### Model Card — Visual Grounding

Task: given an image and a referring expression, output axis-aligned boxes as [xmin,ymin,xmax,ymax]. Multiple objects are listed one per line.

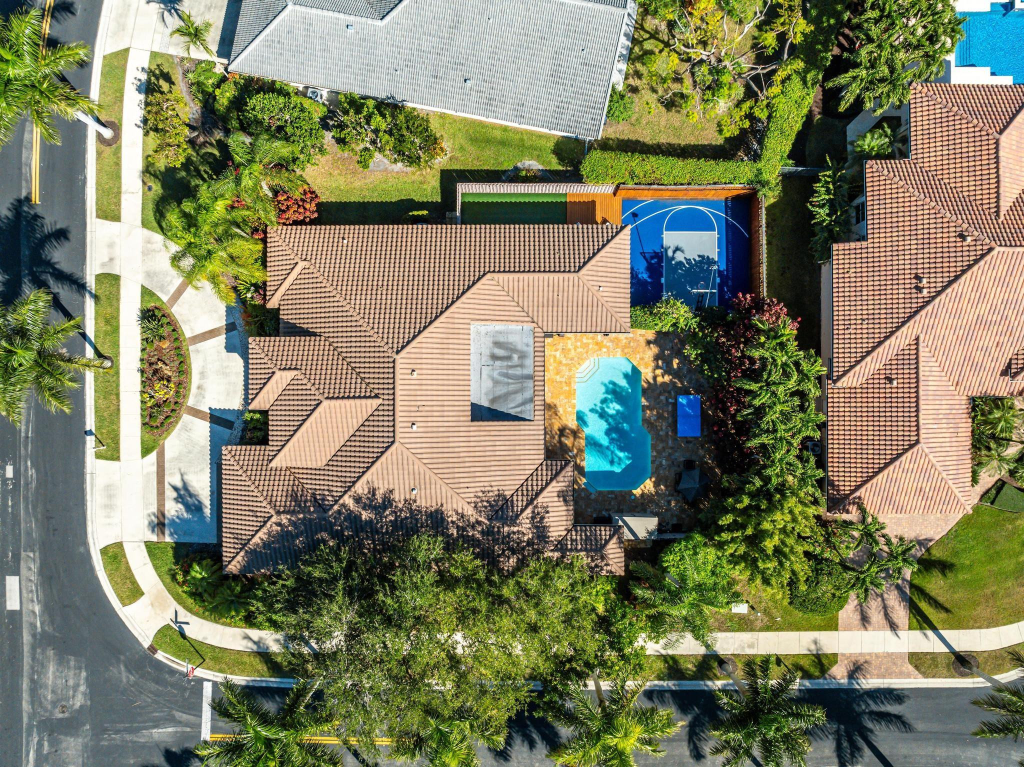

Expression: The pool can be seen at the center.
[571,352,656,495]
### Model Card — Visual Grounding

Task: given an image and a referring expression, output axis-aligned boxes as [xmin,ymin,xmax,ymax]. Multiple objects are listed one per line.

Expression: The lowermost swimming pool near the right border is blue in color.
[956,12,1024,82]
